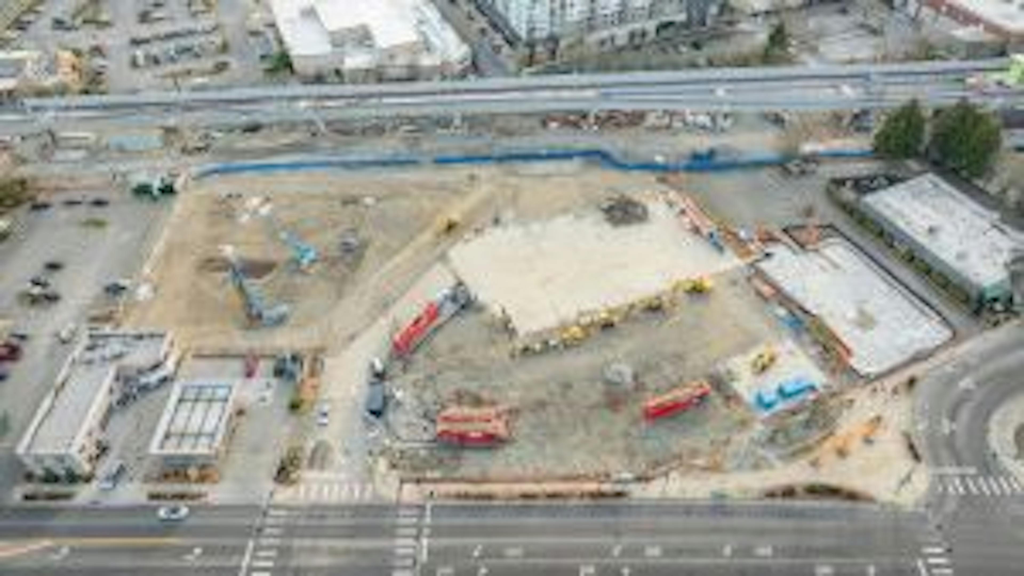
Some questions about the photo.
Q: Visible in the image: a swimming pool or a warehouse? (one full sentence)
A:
This aerial view contains a warehouse.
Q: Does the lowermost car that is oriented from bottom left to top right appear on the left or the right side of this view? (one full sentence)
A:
The lowermost car that is oriented from bottom left to top right appears in the left half of the scene.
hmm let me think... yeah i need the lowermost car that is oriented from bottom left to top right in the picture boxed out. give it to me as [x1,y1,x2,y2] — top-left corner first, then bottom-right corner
[99,465,126,493]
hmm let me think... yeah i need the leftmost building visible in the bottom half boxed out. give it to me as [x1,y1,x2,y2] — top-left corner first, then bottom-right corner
[17,330,180,477]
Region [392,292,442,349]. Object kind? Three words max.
trailer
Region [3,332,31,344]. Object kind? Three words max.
vehicle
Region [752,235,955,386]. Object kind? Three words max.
warehouse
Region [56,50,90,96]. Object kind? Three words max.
building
